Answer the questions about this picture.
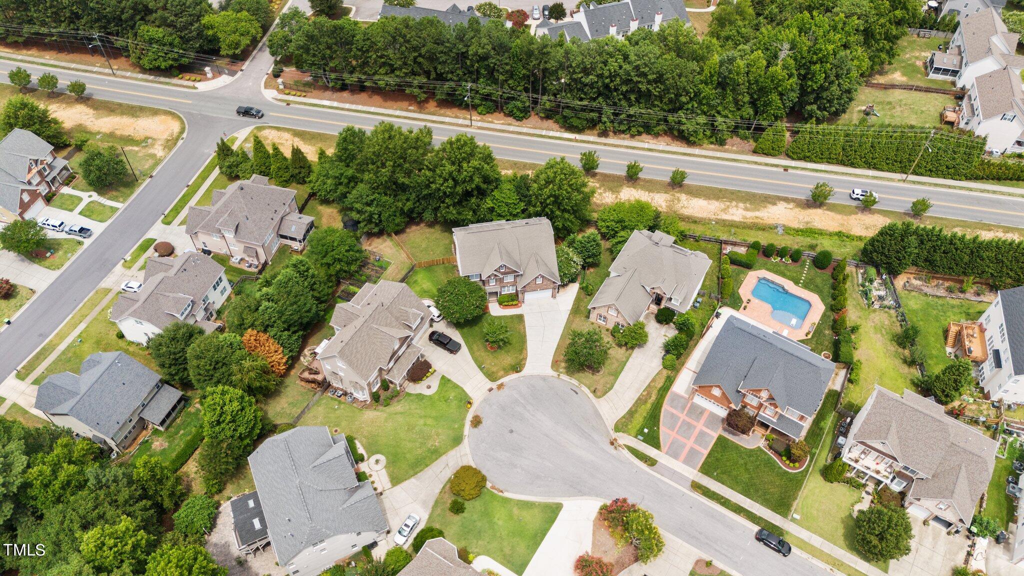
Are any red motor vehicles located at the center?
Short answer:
No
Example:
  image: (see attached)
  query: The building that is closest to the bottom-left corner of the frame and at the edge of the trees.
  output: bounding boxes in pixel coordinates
[31,350,187,453]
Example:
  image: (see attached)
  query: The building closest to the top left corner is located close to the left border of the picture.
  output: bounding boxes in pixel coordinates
[0,138,75,226]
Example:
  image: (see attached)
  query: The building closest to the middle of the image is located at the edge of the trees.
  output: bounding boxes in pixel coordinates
[453,217,561,303]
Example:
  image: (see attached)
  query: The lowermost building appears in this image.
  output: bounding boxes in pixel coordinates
[393,537,487,576]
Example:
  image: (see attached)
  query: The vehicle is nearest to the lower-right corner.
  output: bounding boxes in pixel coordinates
[755,529,794,560]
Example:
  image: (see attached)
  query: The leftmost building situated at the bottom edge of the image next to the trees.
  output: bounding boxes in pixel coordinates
[231,425,389,574]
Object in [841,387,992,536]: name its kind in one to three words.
house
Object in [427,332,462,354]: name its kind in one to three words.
truck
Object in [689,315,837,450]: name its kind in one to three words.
house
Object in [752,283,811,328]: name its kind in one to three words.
swimming pool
